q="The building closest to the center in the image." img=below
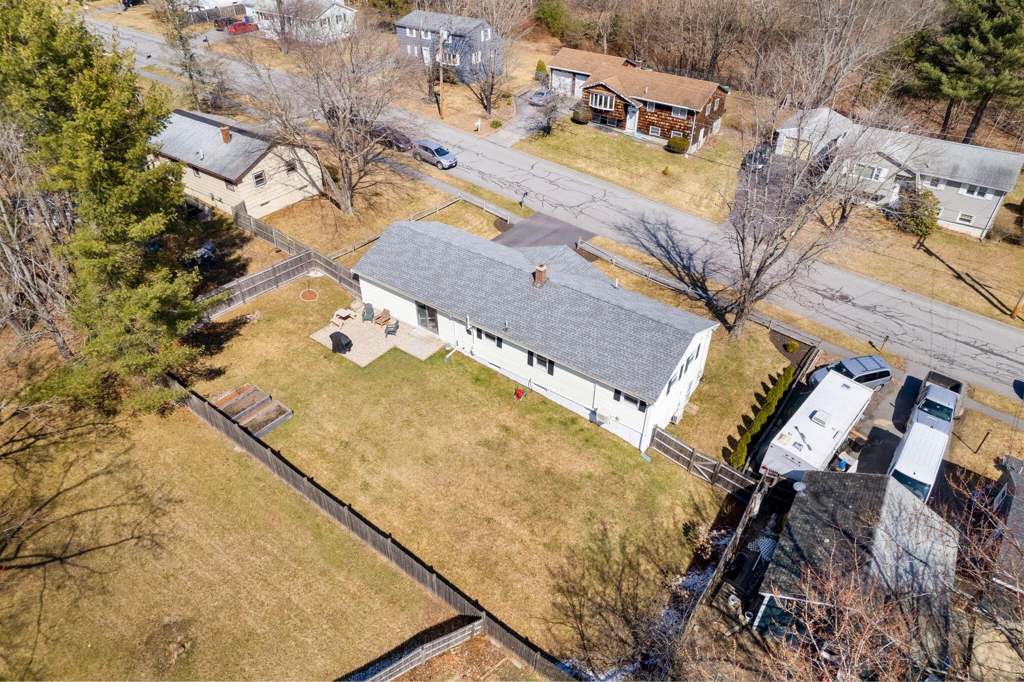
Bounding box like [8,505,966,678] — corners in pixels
[349,221,721,450]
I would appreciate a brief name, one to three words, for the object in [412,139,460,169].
car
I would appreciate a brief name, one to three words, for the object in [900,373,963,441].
truck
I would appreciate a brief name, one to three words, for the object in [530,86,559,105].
car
